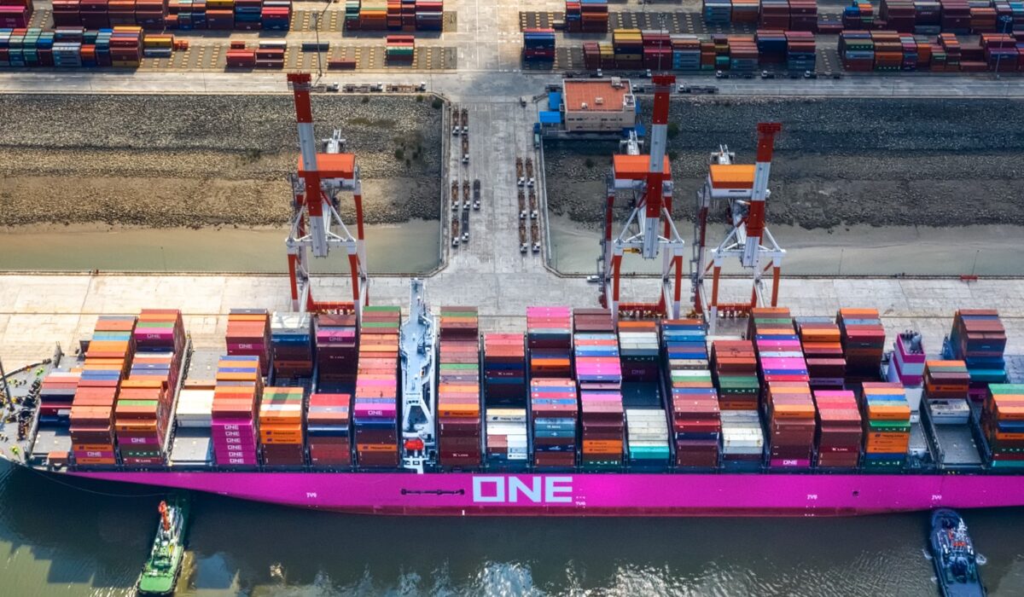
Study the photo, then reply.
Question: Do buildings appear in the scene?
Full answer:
Yes, this view includes a building.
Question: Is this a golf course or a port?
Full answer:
This image shows a port.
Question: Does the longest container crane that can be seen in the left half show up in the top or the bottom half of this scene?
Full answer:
The longest container crane that can be seen in the left half sits in the top half of the picture.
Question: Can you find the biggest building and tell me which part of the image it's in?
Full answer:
Look in the top portion of the view to spot the biggest building.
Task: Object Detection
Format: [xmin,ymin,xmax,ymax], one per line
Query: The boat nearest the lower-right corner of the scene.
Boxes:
[924,508,987,597]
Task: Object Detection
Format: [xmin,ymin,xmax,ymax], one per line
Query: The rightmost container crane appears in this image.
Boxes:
[685,121,785,336]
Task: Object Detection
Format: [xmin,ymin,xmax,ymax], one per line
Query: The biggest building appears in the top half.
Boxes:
[563,72,636,130]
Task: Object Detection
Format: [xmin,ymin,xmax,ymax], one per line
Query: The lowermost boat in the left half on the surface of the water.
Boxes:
[137,499,191,597]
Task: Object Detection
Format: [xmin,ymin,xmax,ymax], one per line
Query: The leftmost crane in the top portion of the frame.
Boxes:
[286,75,368,335]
